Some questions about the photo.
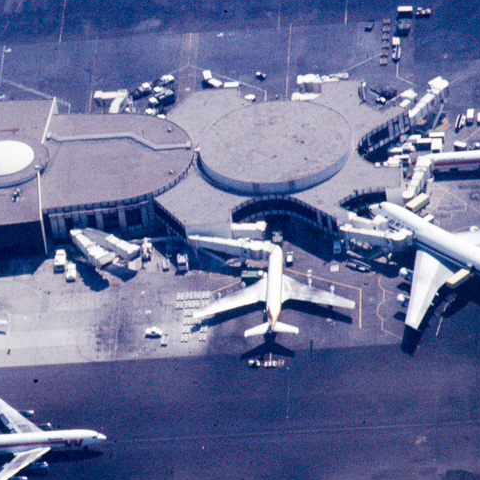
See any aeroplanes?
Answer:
Yes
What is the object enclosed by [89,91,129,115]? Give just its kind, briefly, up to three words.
jet bridge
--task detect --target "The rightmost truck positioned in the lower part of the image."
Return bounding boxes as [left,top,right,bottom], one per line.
[441,272,474,304]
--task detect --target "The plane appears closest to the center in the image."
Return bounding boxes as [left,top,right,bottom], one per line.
[194,248,358,342]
